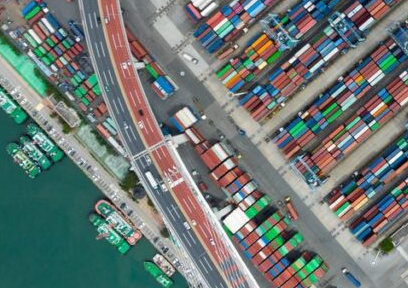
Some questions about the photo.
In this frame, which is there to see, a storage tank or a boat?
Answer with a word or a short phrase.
boat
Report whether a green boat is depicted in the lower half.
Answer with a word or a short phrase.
Yes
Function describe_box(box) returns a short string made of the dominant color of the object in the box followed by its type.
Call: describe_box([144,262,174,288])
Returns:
green boat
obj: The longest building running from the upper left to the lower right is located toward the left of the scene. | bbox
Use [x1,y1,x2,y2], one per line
[51,95,83,126]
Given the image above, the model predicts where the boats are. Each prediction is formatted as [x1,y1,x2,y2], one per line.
[144,262,174,288]
[6,143,41,179]
[94,198,141,247]
[25,121,64,162]
[18,135,53,171]
[90,215,127,253]
[0,88,25,125]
